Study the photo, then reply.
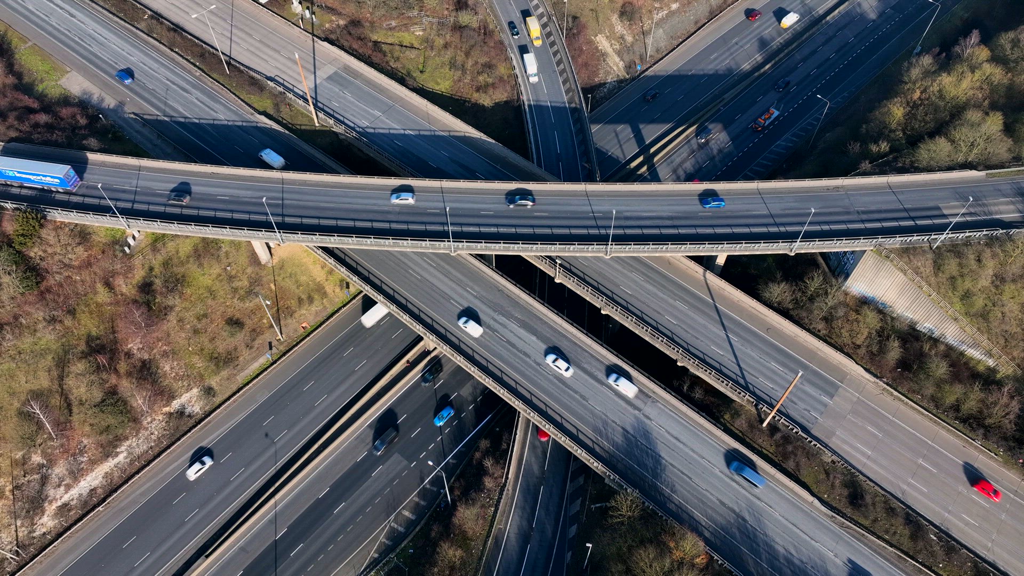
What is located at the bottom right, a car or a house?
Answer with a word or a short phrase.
car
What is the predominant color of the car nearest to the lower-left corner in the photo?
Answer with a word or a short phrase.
white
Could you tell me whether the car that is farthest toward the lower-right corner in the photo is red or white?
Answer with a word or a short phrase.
red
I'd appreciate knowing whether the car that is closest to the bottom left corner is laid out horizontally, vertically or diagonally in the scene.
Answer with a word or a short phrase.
diagonally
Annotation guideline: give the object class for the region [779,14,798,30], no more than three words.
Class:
vehicle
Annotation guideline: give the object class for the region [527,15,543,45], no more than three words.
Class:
vehicle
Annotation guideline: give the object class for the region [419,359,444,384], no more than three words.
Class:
car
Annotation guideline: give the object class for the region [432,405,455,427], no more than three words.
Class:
car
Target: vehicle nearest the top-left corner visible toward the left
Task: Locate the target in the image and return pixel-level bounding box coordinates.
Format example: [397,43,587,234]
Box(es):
[115,70,134,83]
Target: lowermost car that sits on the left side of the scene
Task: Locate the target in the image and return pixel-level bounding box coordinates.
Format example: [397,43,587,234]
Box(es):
[184,455,214,482]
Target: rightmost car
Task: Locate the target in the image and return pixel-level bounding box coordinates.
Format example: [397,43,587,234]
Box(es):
[968,475,1005,505]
